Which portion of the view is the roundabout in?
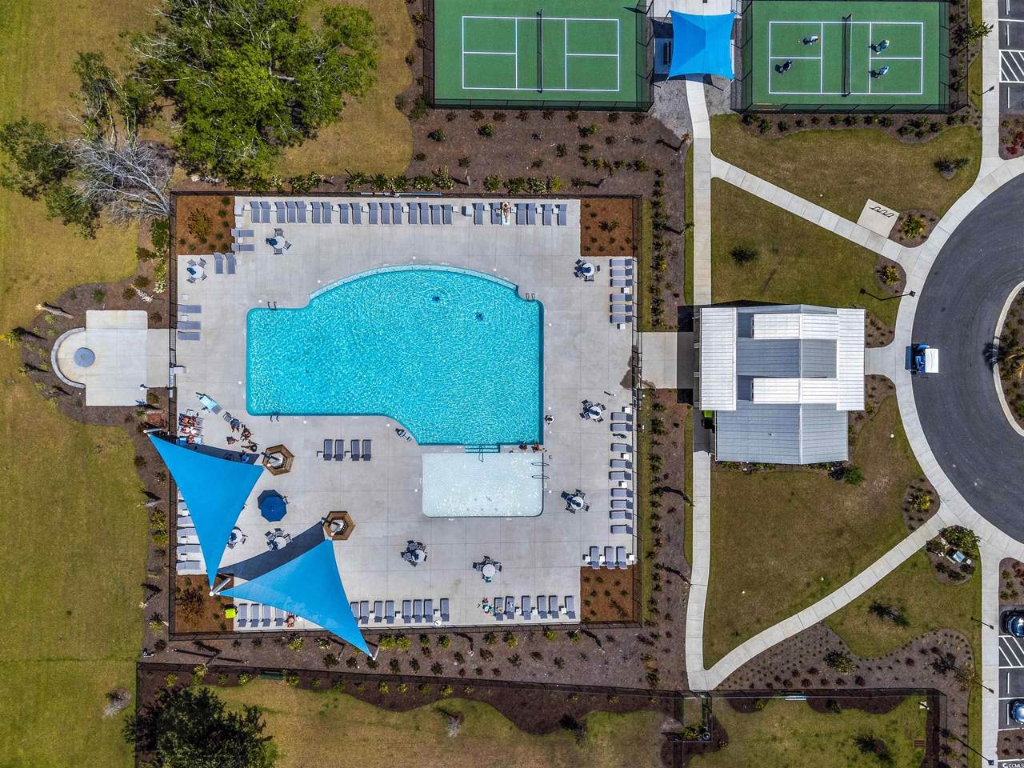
right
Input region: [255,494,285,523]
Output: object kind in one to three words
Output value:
umbrella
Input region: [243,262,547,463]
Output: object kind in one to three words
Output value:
swimming pool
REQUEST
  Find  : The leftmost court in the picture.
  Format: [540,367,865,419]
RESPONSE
[434,0,647,110]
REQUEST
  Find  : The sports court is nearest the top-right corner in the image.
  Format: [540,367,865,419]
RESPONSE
[744,1,951,113]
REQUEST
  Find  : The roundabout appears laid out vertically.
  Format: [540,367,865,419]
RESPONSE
[912,172,1024,540]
